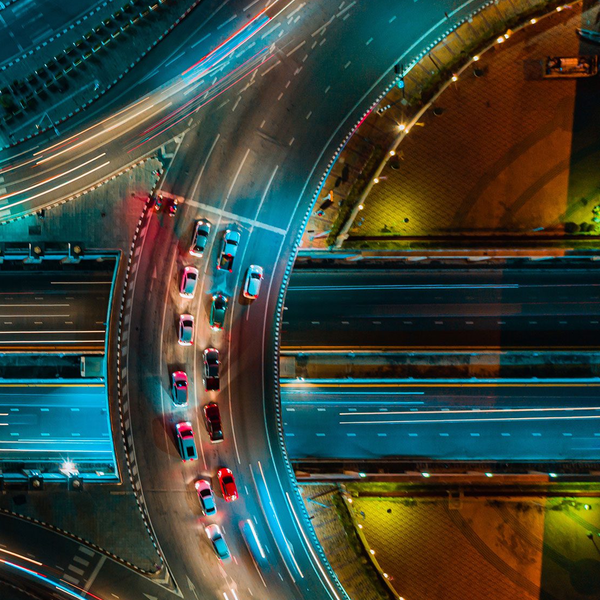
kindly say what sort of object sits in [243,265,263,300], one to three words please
car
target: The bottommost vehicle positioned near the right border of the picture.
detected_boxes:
[547,54,600,76]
